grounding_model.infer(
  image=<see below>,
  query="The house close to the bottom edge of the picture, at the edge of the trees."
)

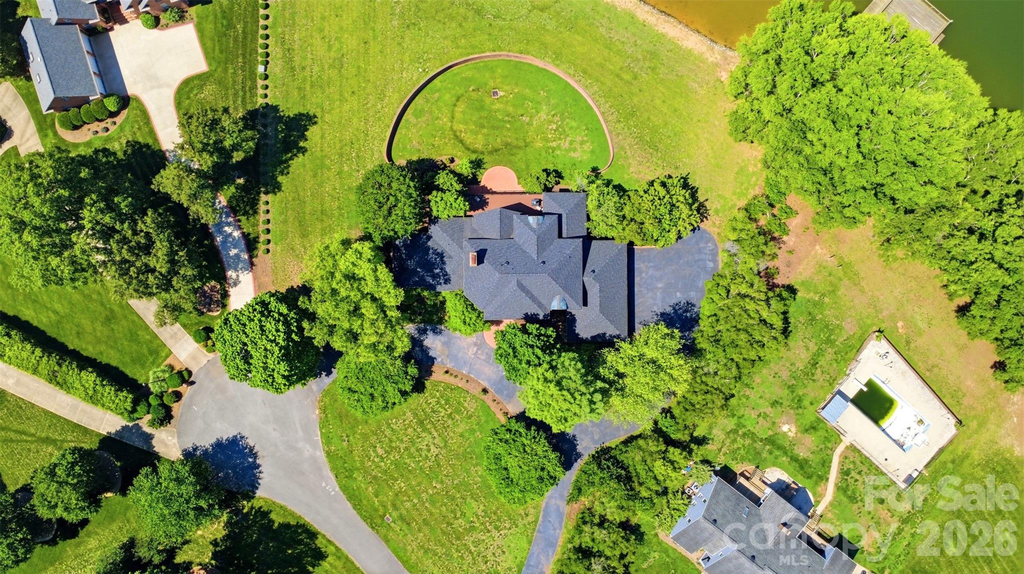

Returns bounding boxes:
[670,477,858,574]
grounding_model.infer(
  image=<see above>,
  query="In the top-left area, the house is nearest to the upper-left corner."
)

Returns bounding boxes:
[20,0,203,116]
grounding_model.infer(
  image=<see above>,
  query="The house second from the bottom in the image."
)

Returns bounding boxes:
[393,192,627,342]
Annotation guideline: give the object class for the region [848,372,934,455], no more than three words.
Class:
swimming pool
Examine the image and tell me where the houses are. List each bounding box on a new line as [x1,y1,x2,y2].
[670,477,858,574]
[393,192,627,342]
[20,0,203,116]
